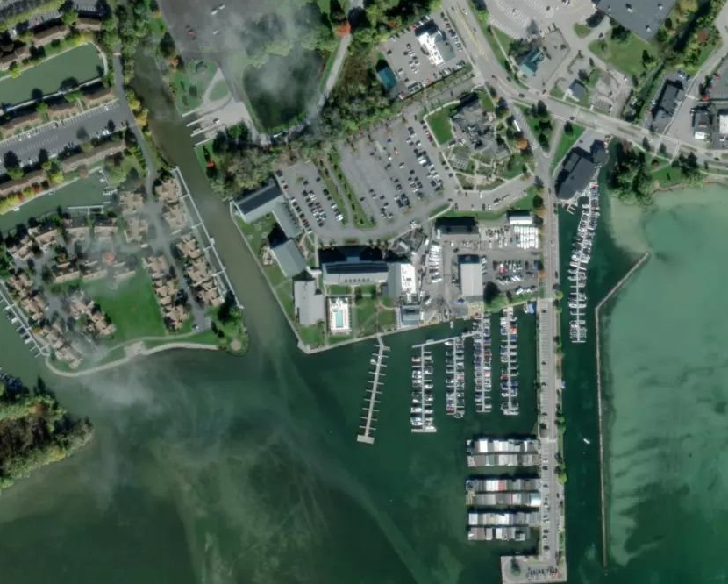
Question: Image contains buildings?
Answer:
Yes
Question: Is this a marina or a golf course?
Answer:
marina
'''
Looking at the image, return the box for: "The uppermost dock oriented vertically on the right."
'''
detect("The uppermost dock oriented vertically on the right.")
[570,184,595,342]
